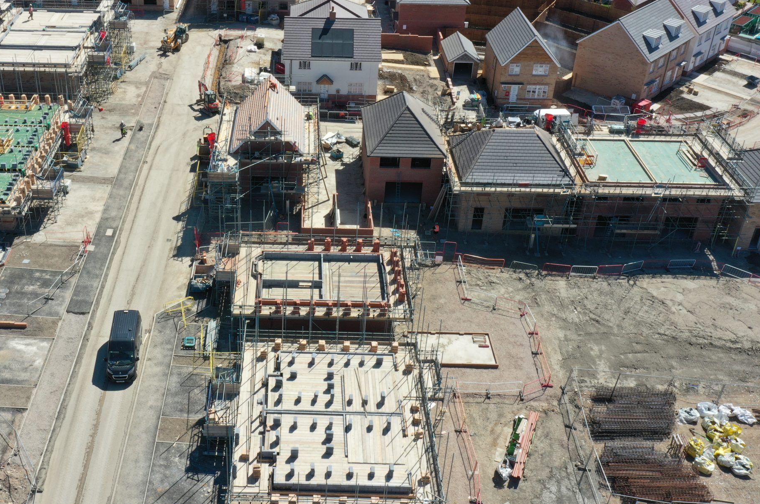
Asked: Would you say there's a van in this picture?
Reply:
Yes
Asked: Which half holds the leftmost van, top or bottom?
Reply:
bottom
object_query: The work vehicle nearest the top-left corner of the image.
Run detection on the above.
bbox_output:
[159,22,191,48]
